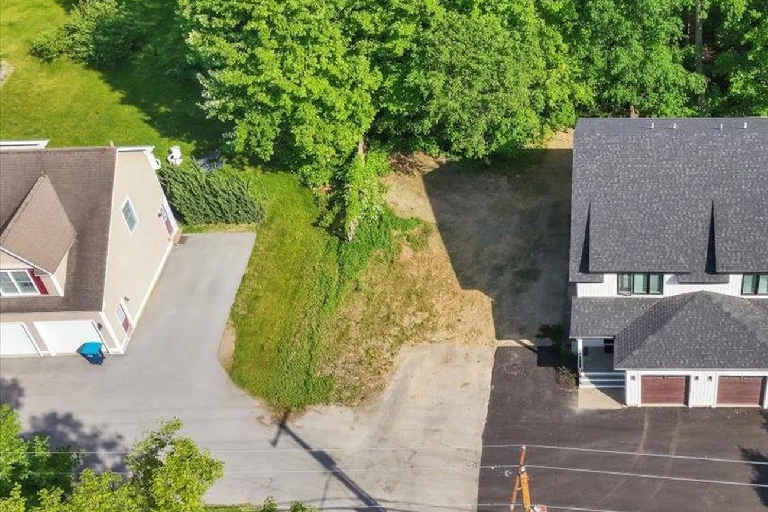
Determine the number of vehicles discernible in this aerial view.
none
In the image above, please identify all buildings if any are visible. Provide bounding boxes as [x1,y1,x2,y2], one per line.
[569,115,768,411]
[0,139,193,358]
